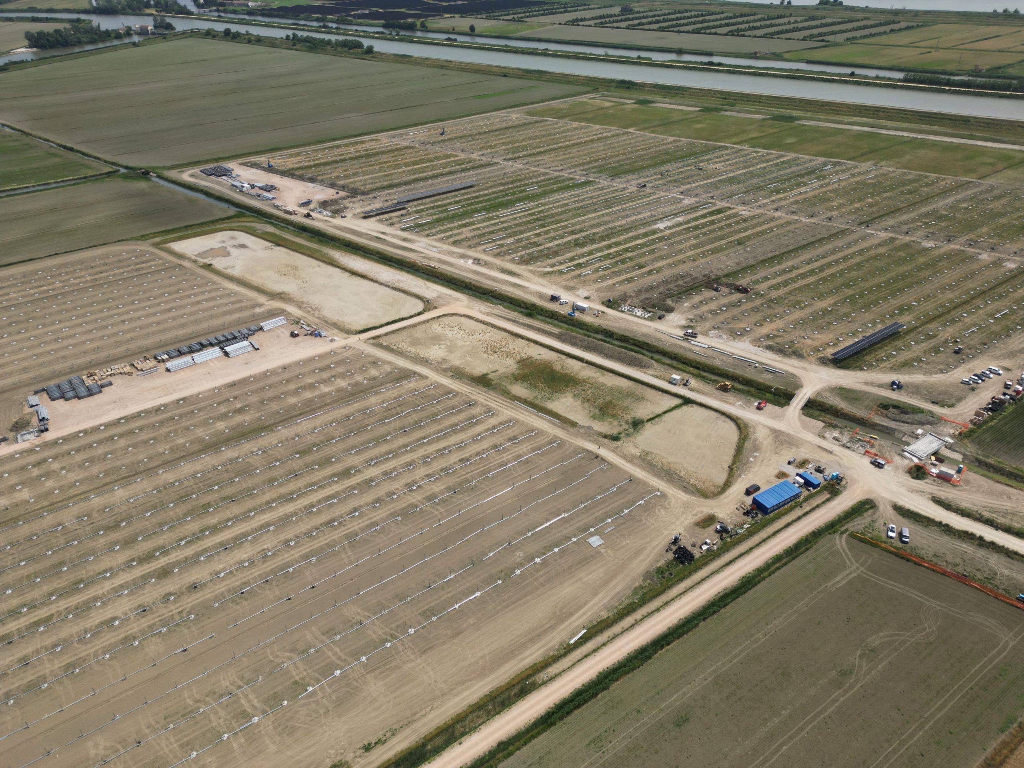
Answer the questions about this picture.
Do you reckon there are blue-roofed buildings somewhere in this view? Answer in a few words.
Yes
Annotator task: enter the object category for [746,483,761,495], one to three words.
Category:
vehicle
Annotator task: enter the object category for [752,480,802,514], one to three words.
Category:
building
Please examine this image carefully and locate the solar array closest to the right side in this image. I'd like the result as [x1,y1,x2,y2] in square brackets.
[831,321,906,360]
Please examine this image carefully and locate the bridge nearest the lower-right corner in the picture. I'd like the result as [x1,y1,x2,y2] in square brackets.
[903,432,949,462]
